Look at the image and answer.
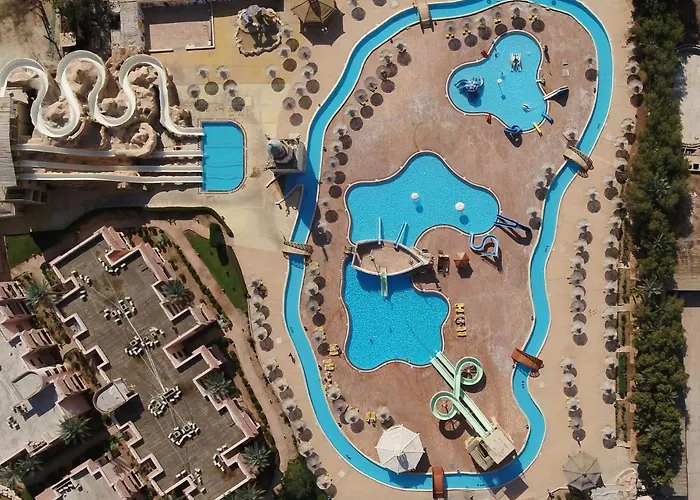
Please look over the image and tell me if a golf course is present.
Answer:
No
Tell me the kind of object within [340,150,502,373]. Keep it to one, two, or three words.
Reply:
swimming pool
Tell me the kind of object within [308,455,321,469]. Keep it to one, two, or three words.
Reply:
umbrella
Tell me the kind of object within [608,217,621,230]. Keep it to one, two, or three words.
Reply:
umbrella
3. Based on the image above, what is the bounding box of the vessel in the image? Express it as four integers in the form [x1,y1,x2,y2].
[345,240,434,276]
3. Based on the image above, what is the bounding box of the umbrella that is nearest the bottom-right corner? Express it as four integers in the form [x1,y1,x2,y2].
[601,425,615,438]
